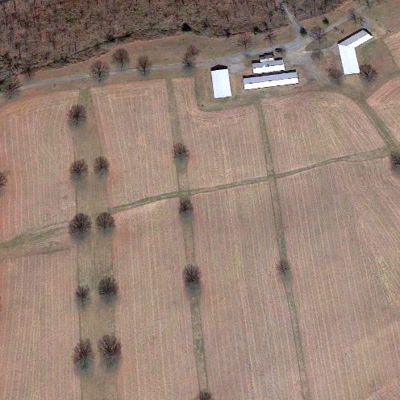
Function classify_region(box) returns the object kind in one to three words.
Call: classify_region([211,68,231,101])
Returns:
barn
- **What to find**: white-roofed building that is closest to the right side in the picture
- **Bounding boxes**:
[338,29,372,78]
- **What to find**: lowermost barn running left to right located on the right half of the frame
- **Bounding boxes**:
[243,71,299,92]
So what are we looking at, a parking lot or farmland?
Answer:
farmland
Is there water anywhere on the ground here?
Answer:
No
